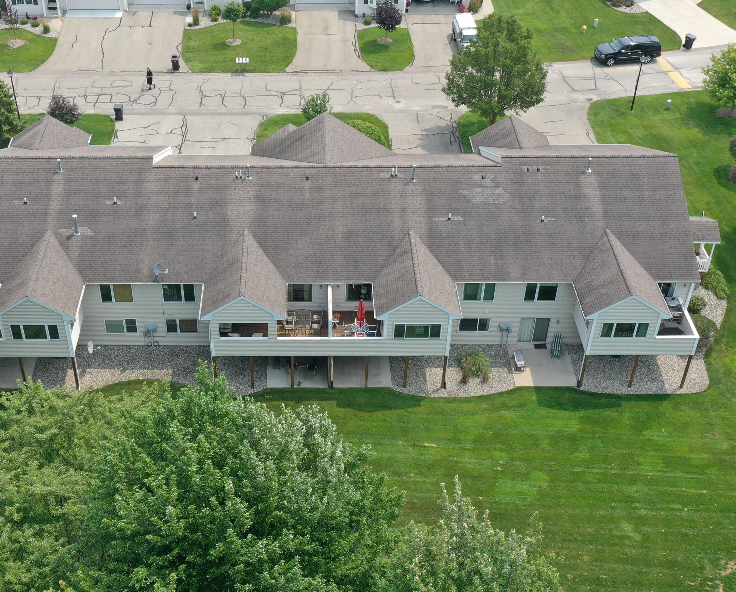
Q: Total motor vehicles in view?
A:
2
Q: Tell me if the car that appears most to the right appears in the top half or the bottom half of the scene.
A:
top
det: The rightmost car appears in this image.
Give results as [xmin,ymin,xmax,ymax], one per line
[592,25,665,59]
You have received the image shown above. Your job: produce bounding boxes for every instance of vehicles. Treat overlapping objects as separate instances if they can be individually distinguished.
[448,4,484,43]
[592,25,665,59]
